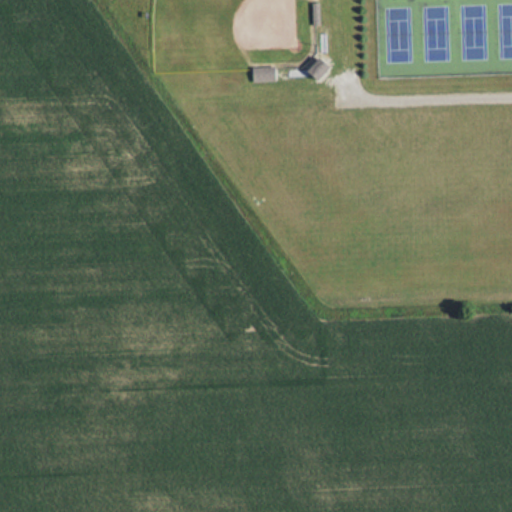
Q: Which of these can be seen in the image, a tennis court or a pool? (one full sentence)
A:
I can see a tennis court in this picture.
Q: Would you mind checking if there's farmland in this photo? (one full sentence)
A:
Yes, there is farmland in the image.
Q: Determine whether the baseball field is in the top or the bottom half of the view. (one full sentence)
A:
The baseball field is in the top half of the image.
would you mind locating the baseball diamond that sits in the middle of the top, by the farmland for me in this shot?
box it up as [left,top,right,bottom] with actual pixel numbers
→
[154,0,319,72]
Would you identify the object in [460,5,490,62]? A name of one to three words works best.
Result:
tennis court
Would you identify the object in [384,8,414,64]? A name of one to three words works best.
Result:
tennis court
